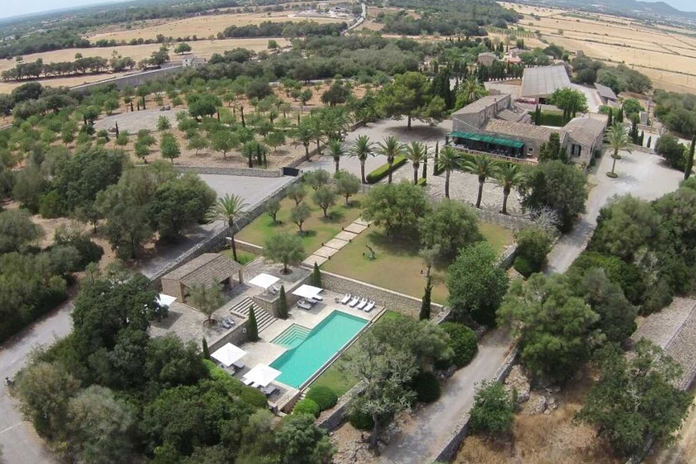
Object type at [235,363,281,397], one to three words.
umbrella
